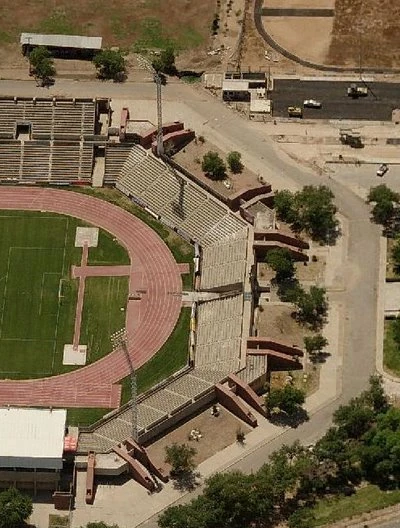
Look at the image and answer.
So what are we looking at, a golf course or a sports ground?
sports ground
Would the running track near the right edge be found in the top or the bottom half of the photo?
top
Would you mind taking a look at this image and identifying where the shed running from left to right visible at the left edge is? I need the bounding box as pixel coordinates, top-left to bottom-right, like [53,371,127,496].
[20,33,101,59]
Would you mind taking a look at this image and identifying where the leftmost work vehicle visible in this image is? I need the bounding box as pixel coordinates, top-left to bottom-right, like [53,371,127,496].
[286,104,302,116]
